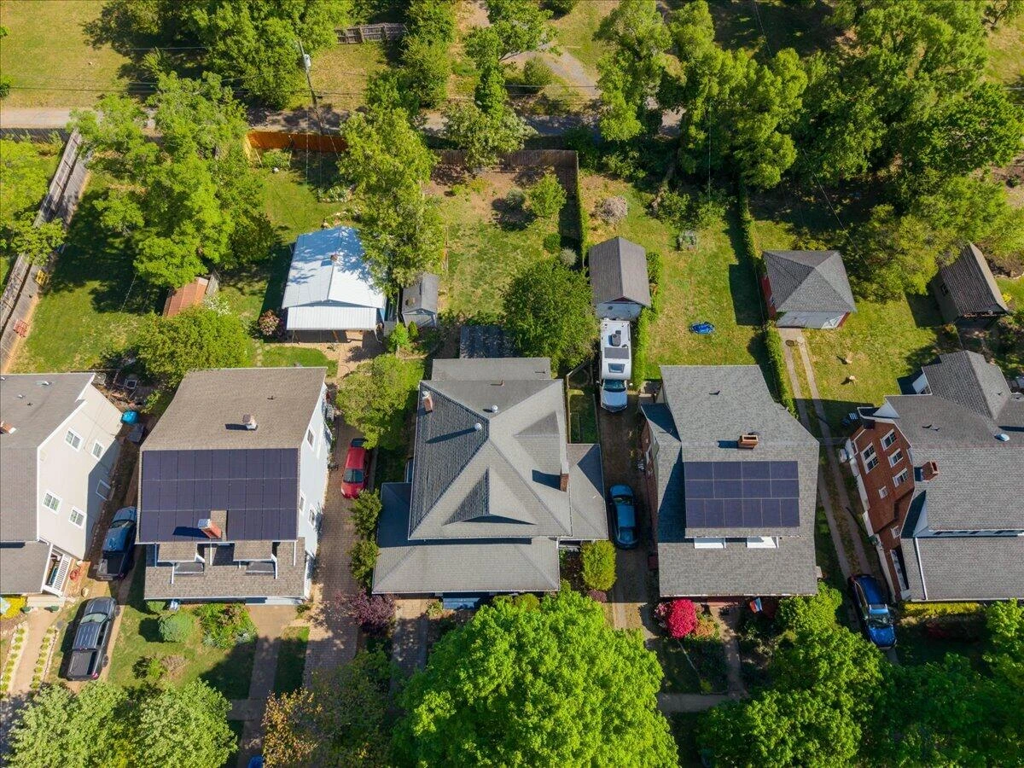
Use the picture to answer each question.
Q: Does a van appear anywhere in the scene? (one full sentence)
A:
Yes, there's a van here.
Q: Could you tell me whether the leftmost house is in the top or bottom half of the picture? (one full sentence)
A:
It is in the bottom half that the leftmost house appears.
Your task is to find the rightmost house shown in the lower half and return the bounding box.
[842,350,1024,607]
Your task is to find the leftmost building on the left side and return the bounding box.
[0,374,122,628]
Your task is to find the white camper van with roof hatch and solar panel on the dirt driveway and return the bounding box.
[594,321,631,412]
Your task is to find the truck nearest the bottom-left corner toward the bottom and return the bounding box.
[59,593,126,693]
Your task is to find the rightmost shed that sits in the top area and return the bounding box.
[923,247,1012,332]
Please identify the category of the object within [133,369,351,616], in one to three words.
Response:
house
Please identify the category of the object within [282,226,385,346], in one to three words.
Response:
building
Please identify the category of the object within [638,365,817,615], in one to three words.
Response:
house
